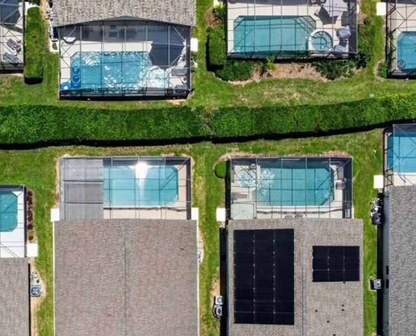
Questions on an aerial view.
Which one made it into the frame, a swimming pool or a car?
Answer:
swimming pool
